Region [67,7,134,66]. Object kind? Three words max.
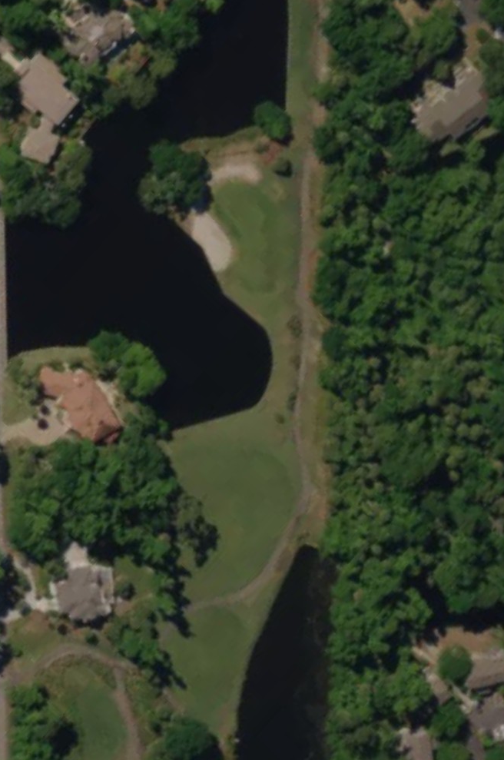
house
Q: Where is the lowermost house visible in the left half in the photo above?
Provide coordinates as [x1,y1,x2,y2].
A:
[58,567,107,621]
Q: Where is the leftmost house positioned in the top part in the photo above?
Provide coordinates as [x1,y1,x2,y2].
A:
[14,55,83,164]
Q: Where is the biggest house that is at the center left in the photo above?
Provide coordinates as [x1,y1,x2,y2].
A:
[40,367,130,444]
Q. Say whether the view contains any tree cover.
Yes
